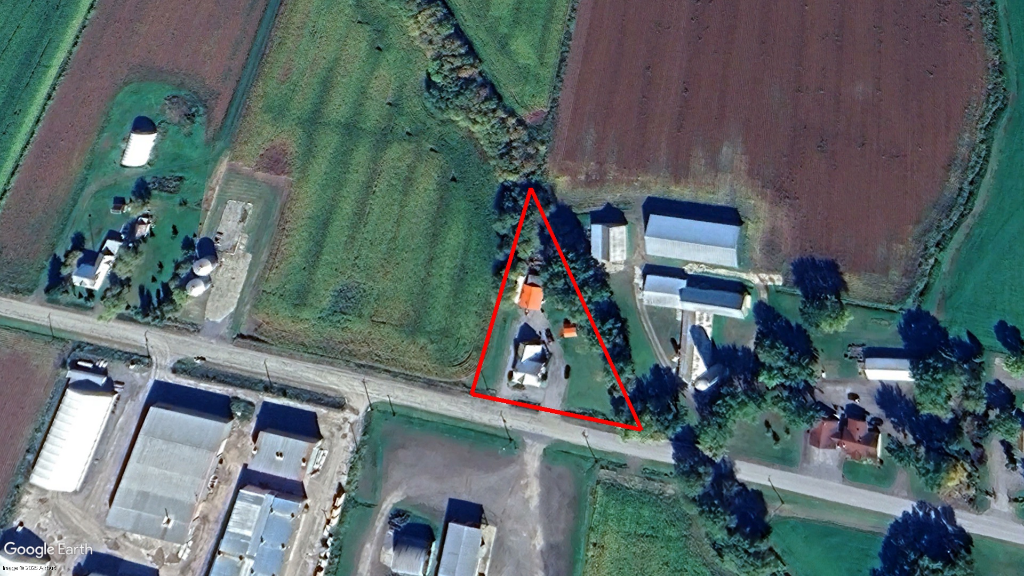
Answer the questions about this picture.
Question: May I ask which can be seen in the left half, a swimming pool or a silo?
silo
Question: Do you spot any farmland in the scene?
Yes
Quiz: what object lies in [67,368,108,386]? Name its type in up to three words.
shed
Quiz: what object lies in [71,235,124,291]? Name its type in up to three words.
house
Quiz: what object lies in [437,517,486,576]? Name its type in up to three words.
barn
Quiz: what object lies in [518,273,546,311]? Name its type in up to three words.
building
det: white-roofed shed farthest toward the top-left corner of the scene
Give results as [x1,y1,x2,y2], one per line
[123,128,157,170]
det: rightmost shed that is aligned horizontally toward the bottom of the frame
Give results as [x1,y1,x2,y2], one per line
[864,357,918,381]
